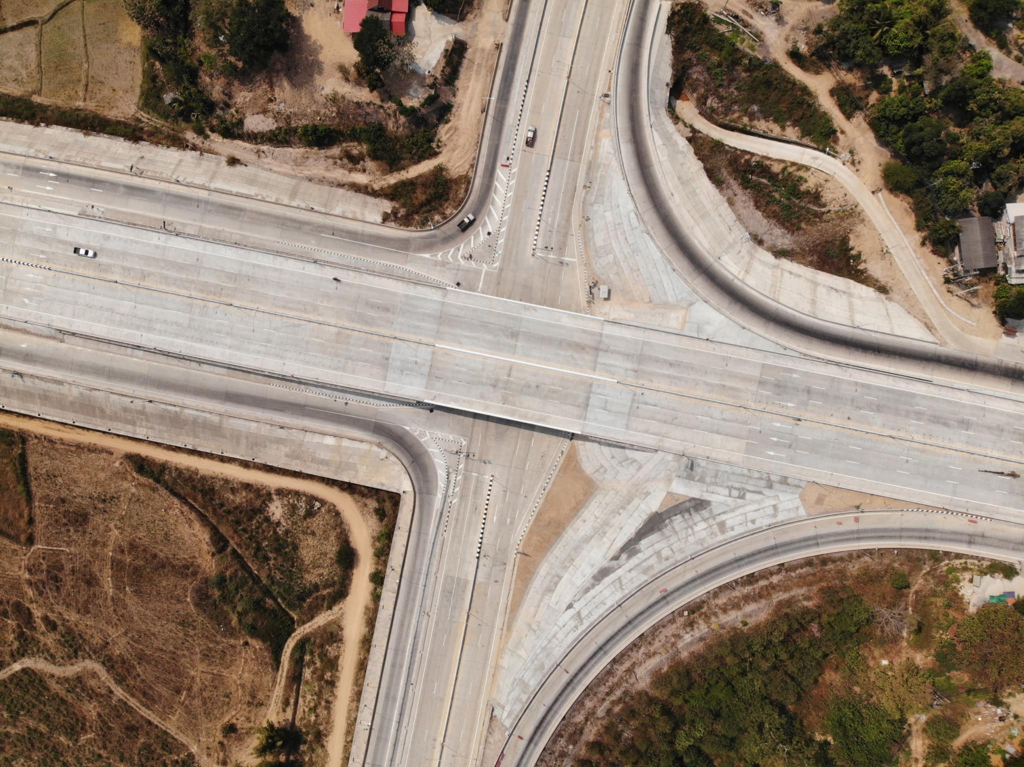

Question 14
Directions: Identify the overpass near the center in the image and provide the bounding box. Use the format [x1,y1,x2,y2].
[423,287,615,434]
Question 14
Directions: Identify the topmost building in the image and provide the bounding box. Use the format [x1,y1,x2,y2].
[343,0,408,39]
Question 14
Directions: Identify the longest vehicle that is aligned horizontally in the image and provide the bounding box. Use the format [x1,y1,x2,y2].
[71,246,95,258]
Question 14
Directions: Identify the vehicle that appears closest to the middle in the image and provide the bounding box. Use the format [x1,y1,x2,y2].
[456,212,476,232]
